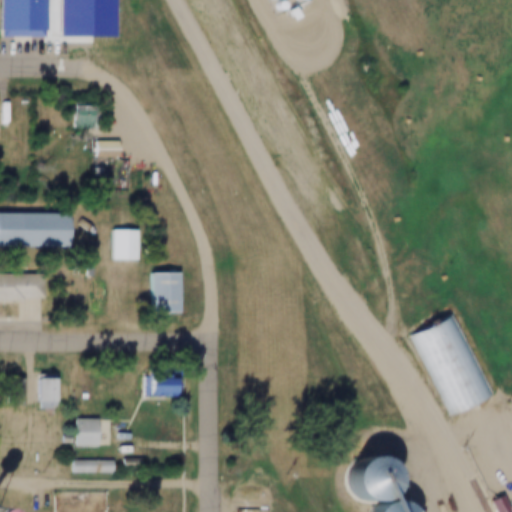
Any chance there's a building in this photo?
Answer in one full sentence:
Yes, you can see a building in this photo.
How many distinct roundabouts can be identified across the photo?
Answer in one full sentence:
Not a single roundabout can be seen.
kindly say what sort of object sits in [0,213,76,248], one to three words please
shed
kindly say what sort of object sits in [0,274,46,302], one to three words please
house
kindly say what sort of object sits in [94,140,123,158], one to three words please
building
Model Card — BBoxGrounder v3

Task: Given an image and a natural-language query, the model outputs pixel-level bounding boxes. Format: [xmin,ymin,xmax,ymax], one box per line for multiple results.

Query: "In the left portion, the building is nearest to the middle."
[150,272,183,314]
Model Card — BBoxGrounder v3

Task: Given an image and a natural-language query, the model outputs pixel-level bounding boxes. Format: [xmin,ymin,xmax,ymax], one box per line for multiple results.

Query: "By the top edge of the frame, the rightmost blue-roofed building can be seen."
[62,0,119,37]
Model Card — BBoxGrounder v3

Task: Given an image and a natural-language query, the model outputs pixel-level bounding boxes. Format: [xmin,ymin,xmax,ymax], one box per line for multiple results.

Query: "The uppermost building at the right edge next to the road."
[412,314,492,416]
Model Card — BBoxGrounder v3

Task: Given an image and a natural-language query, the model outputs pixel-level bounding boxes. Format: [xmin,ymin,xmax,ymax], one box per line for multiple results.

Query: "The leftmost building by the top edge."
[2,0,48,37]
